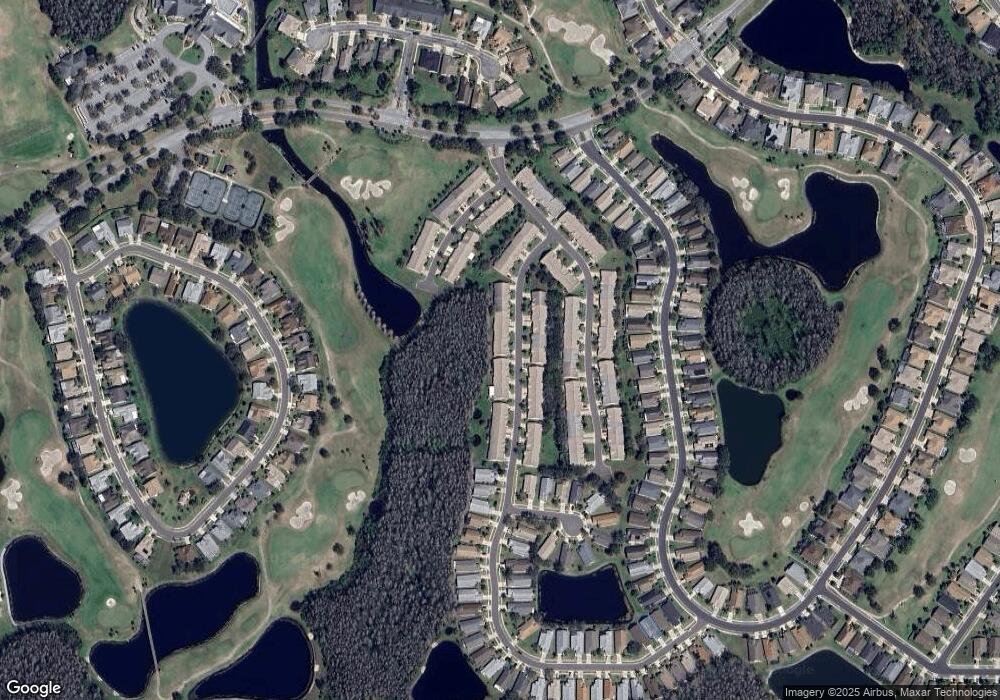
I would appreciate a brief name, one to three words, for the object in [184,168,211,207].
tennis court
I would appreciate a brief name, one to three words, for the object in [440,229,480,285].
house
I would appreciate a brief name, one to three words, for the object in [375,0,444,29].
building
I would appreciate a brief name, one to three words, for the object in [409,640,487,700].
pond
